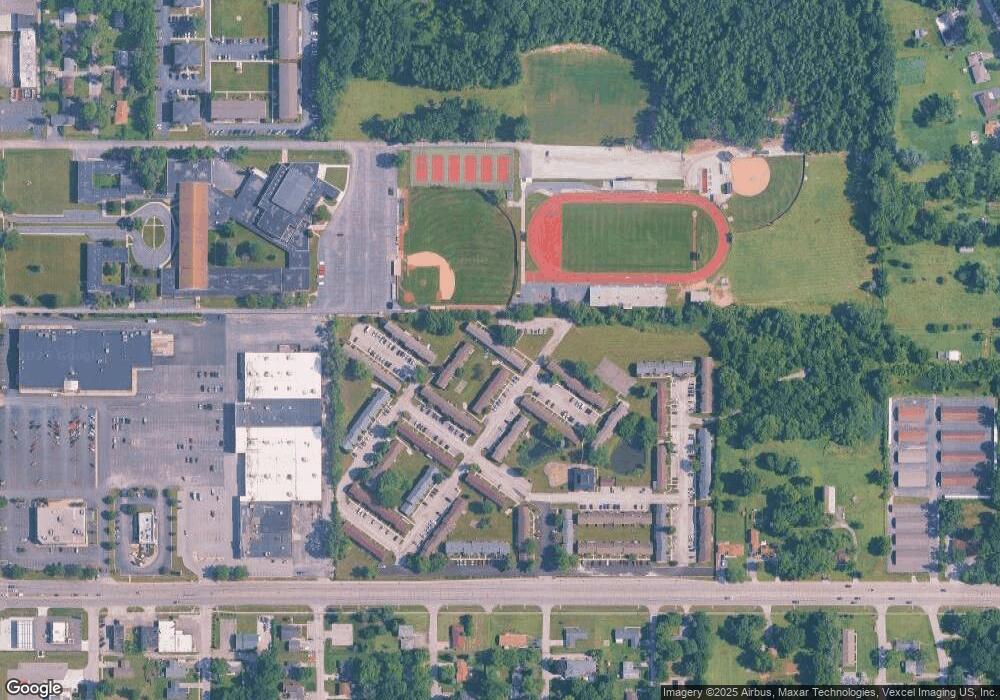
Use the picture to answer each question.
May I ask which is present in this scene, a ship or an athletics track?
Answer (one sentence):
Visible in the photo is an athletics track.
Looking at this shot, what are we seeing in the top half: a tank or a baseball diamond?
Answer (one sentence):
The one visible in the top half is a baseball diamond.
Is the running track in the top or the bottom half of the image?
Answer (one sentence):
Seen from above, the running track lies in the top half of the view.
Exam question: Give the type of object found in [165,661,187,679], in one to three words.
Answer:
house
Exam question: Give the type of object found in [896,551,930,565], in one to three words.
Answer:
building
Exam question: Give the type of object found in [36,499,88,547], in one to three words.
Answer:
building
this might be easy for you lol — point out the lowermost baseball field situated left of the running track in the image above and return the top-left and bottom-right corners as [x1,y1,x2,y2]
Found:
[402,189,517,306]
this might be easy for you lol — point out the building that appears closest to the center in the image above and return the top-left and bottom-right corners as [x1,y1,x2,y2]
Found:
[466,323,527,370]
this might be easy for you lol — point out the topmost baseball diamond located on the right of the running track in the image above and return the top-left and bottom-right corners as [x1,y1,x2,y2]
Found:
[727,153,804,232]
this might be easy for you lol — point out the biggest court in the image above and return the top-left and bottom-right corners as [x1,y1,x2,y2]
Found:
[595,357,636,394]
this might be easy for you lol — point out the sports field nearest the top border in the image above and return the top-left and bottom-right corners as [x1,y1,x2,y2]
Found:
[525,49,650,144]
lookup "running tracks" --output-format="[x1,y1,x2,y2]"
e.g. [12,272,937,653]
[525,192,729,284]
